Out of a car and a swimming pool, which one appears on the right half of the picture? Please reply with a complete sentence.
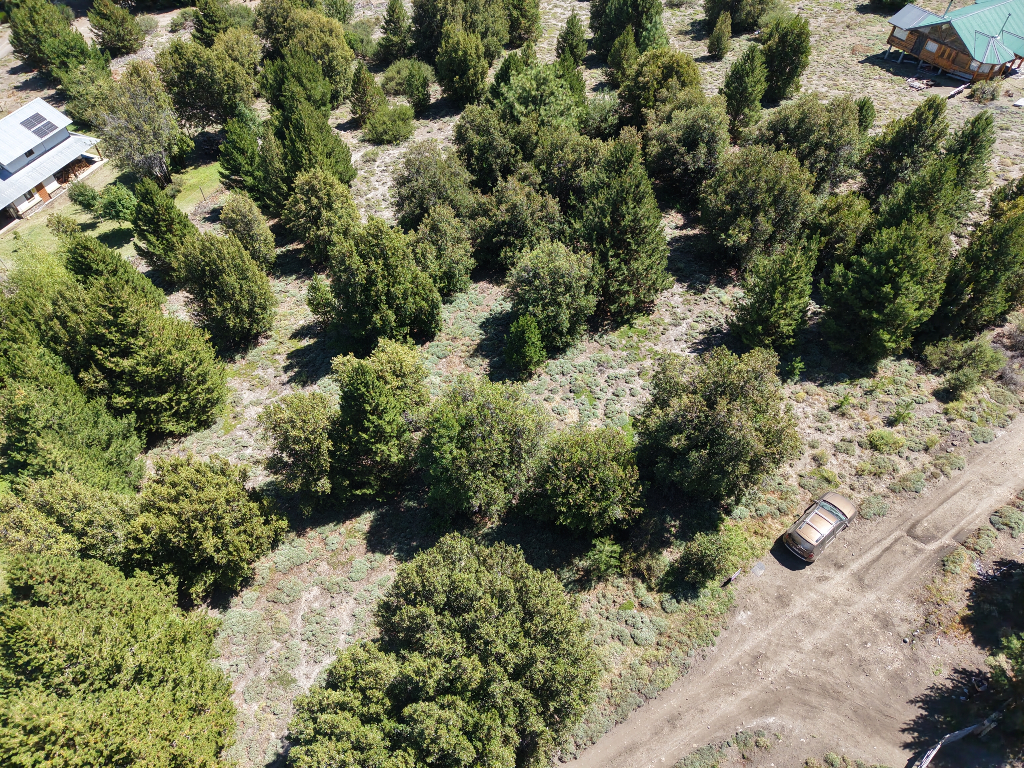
Visible on the right half of the picture is a car.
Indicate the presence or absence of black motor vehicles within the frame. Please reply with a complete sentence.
No, there is no black motor vehicle in the image.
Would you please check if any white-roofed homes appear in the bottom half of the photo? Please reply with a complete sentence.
No, no white-roofed home appears in the bottom half of the photo.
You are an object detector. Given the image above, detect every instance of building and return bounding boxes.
[884,0,1024,86]
[0,96,109,215]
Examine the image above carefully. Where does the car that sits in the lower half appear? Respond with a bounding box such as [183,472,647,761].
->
[785,493,855,560]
